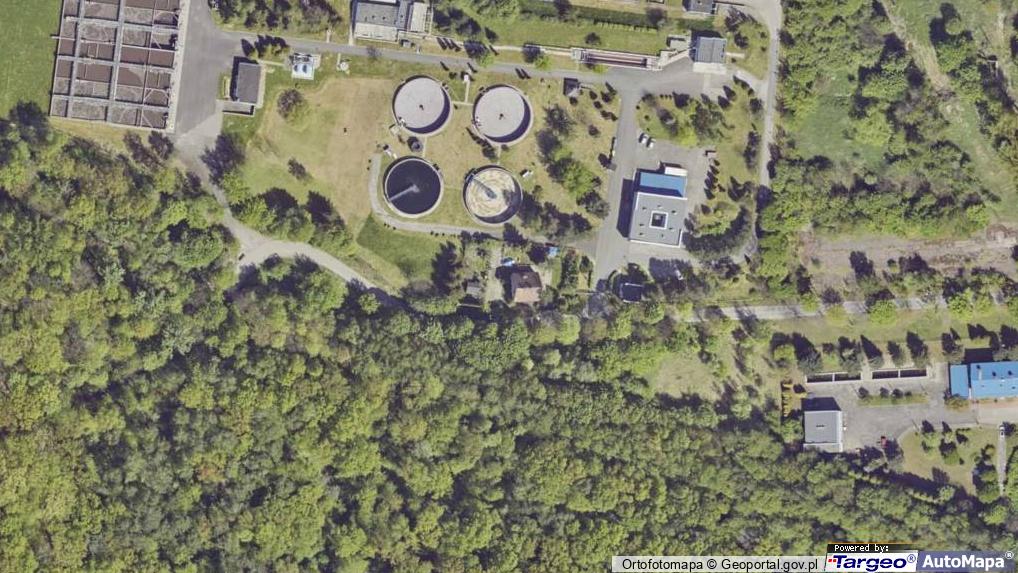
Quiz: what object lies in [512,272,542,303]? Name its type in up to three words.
house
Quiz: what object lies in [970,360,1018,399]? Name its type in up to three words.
building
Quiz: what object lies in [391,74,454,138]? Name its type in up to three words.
storage tank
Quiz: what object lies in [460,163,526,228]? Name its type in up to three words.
storage tank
